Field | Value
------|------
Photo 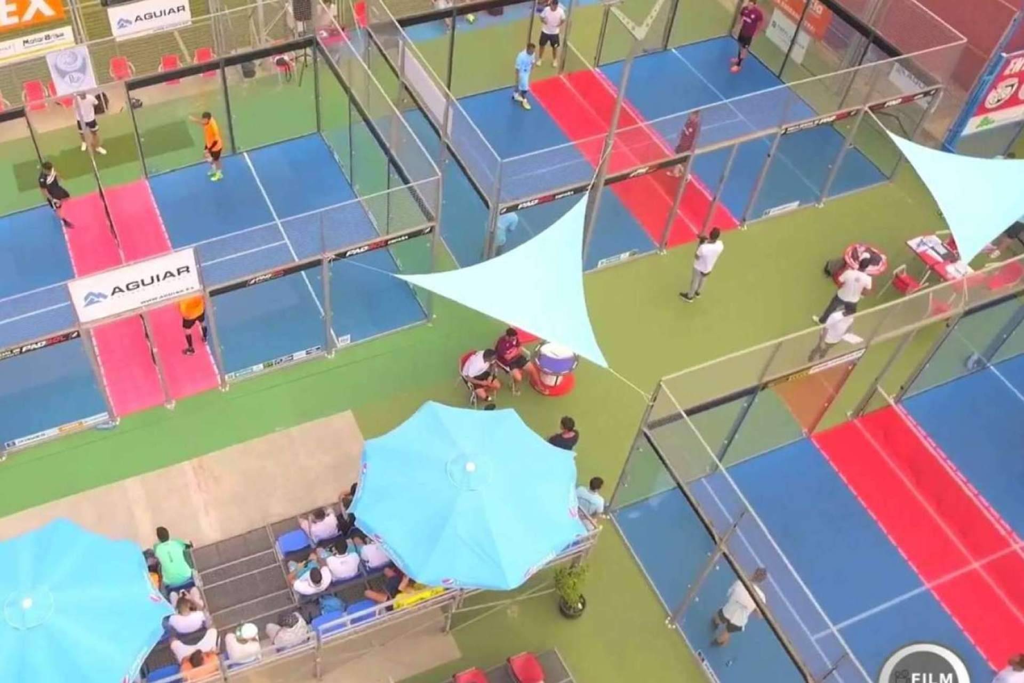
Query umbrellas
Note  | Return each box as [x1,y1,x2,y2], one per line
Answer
[348,399,589,600]
[0,513,181,683]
